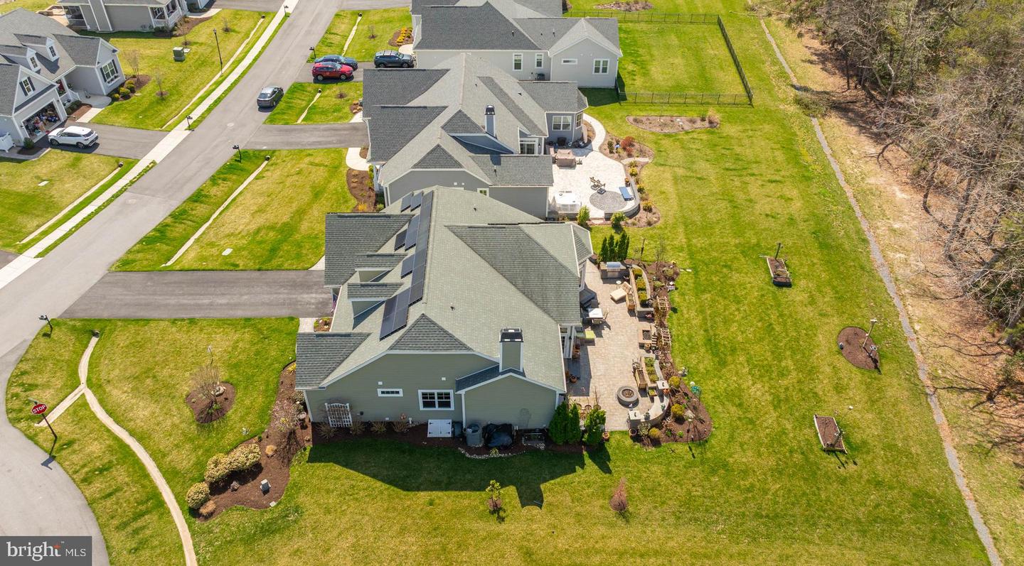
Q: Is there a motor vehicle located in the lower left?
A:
No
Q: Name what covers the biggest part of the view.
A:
grass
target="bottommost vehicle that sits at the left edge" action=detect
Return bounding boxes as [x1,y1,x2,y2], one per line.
[45,125,99,149]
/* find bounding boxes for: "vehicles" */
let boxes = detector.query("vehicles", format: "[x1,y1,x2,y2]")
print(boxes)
[45,125,99,149]
[251,85,285,109]
[371,48,415,68]
[310,60,353,80]
[314,52,360,68]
